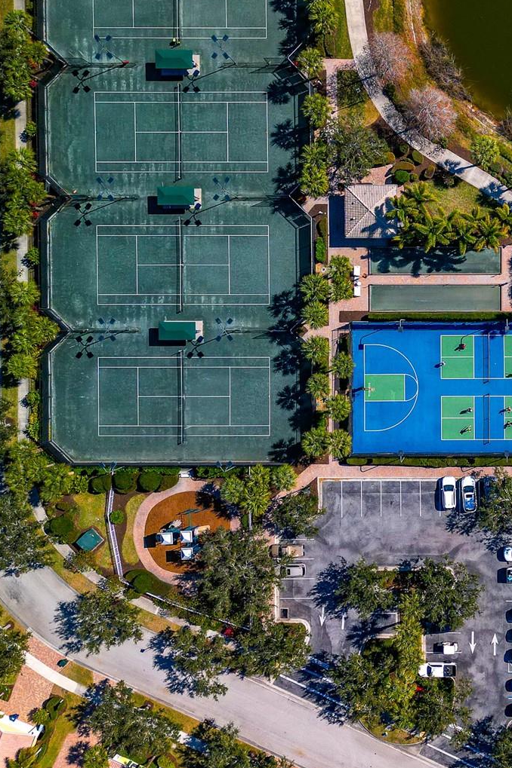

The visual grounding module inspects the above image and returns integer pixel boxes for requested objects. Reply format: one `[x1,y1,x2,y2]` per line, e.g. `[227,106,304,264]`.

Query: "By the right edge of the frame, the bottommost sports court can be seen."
[352,322,512,456]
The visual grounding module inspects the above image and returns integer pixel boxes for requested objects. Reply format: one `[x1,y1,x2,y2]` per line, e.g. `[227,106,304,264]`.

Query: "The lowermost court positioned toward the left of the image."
[51,330,316,464]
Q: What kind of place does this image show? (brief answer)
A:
sports ground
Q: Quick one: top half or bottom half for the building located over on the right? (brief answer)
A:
top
